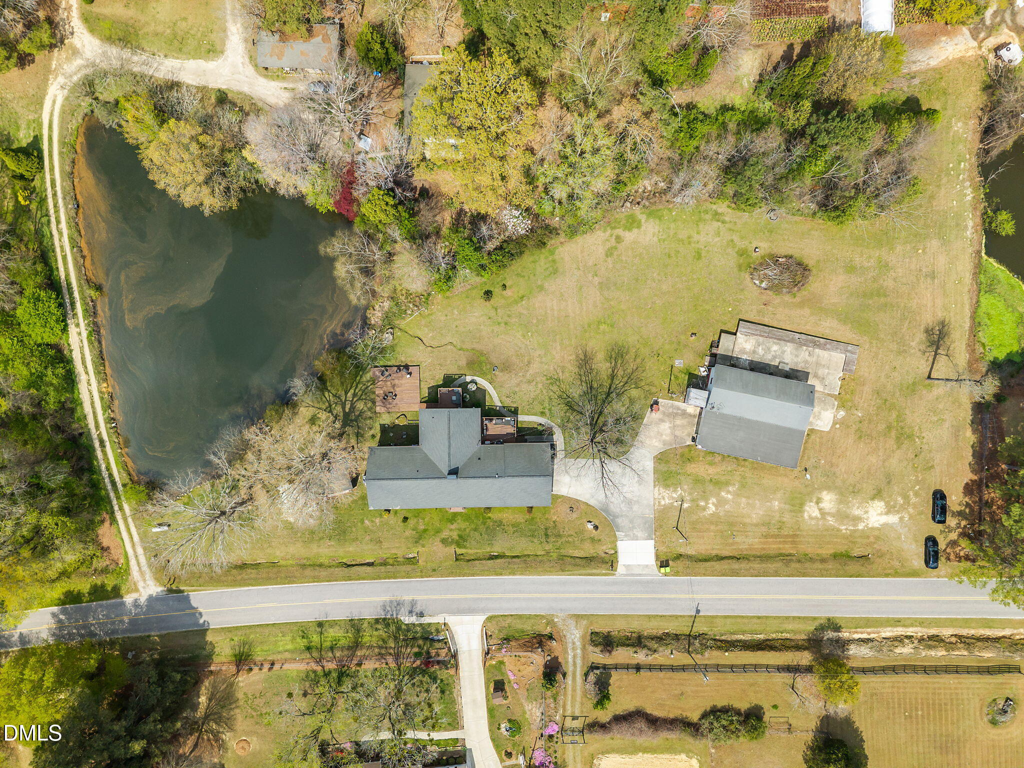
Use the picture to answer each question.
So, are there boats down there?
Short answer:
No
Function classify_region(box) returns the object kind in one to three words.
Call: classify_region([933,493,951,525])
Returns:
car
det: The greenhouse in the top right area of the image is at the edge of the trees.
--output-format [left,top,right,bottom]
[861,0,895,34]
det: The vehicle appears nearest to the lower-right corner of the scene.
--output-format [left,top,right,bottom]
[925,538,941,570]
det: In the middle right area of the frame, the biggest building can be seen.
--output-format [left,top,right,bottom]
[694,364,815,469]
